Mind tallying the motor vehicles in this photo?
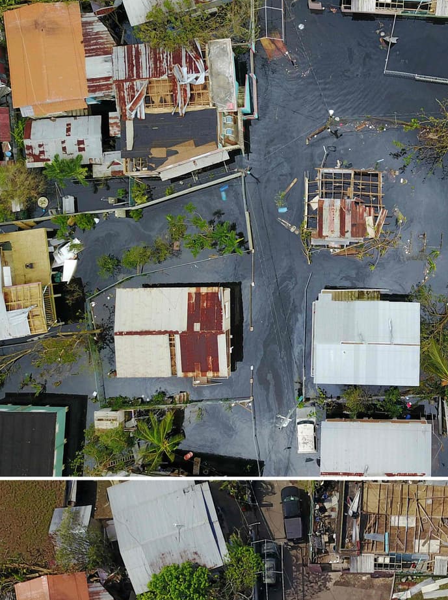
three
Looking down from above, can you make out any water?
Yes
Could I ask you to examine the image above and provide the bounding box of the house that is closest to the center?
[115,286,238,378]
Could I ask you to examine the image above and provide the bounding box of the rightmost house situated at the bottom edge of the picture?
[331,480,448,575]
